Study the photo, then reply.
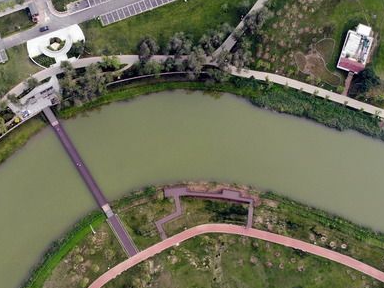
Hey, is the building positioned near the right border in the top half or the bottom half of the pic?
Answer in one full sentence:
The top half of the photo is where the building positioned near the right border is.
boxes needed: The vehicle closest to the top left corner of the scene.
[26,1,40,22]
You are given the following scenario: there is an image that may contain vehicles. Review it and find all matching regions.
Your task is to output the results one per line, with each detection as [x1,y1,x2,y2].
[26,1,40,22]
[39,25,49,31]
